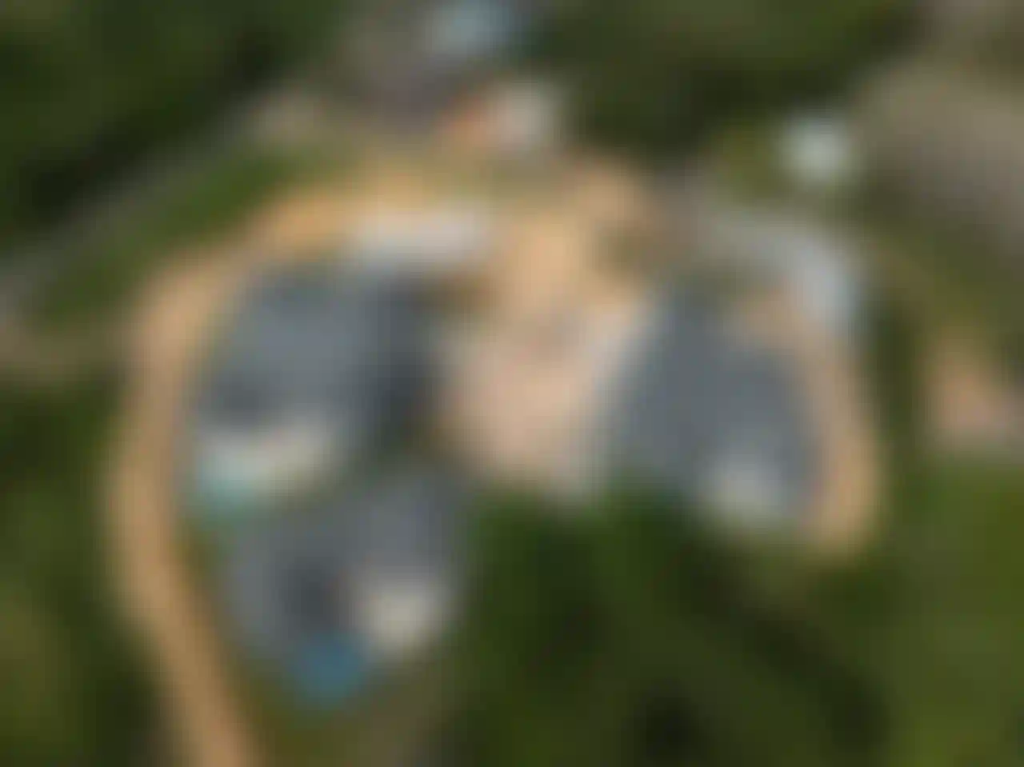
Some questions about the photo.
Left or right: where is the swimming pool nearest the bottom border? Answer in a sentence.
You can find the swimming pool nearest the bottom border on the left side of the picture.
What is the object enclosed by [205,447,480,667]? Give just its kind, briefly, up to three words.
house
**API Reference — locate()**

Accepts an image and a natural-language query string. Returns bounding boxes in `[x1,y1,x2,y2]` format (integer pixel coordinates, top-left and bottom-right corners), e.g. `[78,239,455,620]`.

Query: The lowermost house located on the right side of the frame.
[599,284,848,549]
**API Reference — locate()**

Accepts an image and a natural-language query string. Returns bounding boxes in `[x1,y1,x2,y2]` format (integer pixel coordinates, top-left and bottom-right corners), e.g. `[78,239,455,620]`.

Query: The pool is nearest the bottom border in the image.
[282,624,384,712]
